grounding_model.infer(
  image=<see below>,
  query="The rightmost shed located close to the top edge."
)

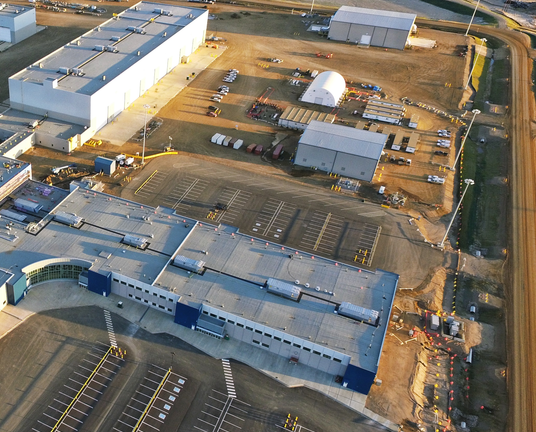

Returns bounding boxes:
[327,6,417,49]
